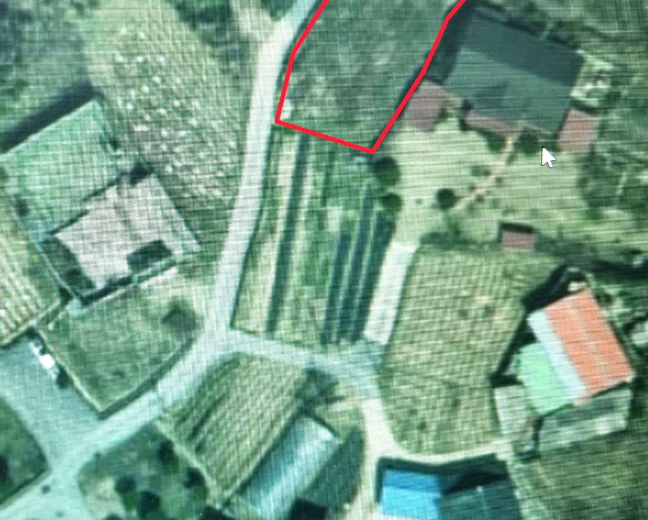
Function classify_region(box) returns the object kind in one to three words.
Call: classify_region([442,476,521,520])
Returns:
house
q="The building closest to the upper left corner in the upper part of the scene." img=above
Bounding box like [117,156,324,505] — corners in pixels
[0,100,133,240]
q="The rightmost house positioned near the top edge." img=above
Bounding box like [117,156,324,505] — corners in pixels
[446,17,583,137]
